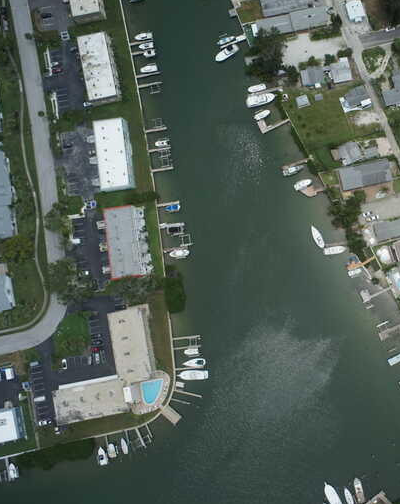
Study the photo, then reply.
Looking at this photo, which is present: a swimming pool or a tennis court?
swimming pool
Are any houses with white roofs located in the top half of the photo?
Yes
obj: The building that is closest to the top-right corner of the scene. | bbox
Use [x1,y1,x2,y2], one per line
[346,0,366,25]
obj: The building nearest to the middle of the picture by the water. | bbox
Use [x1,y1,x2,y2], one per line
[97,206,156,279]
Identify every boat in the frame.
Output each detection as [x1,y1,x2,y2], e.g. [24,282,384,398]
[217,35,235,44]
[167,228,181,234]
[121,437,129,455]
[135,32,155,40]
[253,110,270,121]
[184,348,200,354]
[107,443,117,459]
[143,49,156,57]
[356,479,364,503]
[348,269,361,277]
[98,447,107,468]
[293,180,312,190]
[245,94,275,107]
[217,43,240,60]
[312,226,326,249]
[167,204,182,211]
[140,64,160,72]
[155,140,170,146]
[282,166,303,177]
[182,357,209,367]
[9,462,18,480]
[170,248,192,257]
[139,41,155,49]
[327,483,341,504]
[346,487,354,504]
[247,84,266,93]
[179,369,211,379]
